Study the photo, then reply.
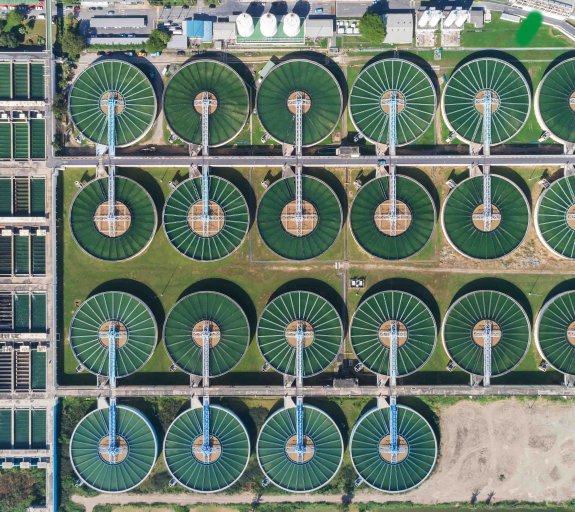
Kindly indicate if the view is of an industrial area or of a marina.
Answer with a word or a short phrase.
industrial area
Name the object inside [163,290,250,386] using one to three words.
water tank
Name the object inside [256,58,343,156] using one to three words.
water tank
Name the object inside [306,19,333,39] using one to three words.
building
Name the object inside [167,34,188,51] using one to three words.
building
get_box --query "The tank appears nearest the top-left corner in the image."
[69,58,158,156]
